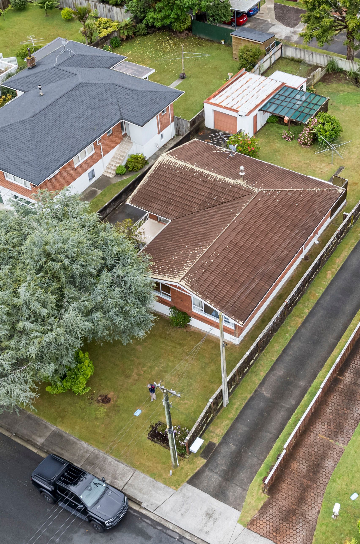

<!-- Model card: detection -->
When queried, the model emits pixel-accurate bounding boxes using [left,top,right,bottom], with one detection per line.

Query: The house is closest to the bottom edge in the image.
[115,140,351,346]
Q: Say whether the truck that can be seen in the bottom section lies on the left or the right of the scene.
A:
left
